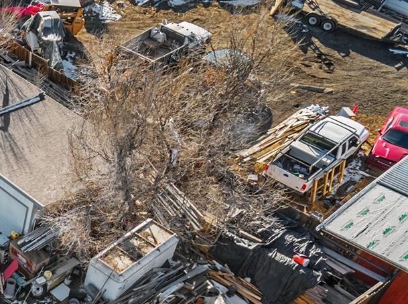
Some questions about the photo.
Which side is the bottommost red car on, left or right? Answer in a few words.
right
